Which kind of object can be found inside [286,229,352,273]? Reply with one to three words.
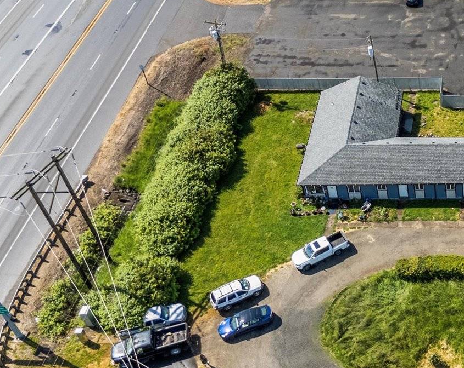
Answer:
truck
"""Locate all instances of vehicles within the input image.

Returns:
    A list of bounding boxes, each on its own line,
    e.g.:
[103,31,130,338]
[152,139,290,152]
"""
[130,298,193,330]
[405,0,419,8]
[286,229,352,273]
[216,301,279,342]
[108,322,186,368]
[207,271,267,314]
